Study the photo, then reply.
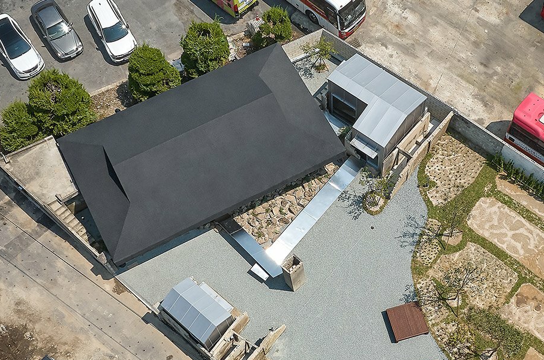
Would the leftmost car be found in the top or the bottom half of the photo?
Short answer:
top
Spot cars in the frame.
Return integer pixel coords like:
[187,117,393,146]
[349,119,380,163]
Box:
[27,0,81,63]
[86,0,135,63]
[0,9,43,82]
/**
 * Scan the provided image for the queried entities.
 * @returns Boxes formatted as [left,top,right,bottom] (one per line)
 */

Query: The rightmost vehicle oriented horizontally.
[290,0,363,31]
